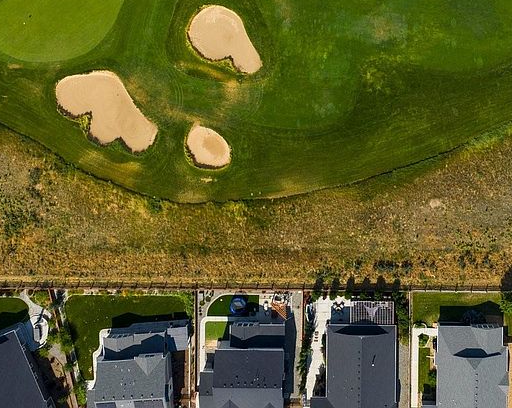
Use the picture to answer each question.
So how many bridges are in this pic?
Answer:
none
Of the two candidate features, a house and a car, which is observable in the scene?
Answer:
house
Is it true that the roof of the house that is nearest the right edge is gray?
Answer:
Yes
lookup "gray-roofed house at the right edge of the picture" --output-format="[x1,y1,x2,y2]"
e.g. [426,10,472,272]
[436,321,507,408]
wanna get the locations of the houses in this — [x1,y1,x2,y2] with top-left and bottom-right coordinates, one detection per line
[86,324,189,408]
[198,321,286,408]
[436,321,507,408]
[0,325,58,408]
[310,319,398,408]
